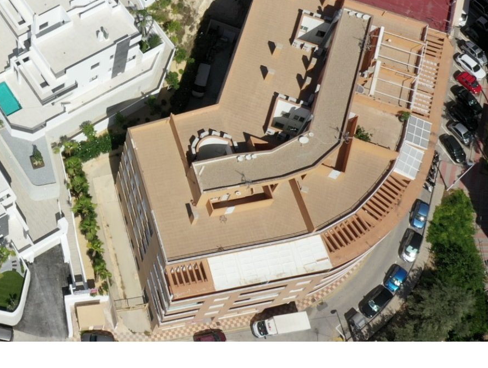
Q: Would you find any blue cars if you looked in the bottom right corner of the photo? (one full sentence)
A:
Yes, a blue car appears in the bottom right corner of the photo.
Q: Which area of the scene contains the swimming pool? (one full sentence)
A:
The swimming pool is in the top left part of the image.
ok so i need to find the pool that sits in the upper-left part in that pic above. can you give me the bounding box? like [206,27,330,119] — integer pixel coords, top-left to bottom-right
[0,78,25,119]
